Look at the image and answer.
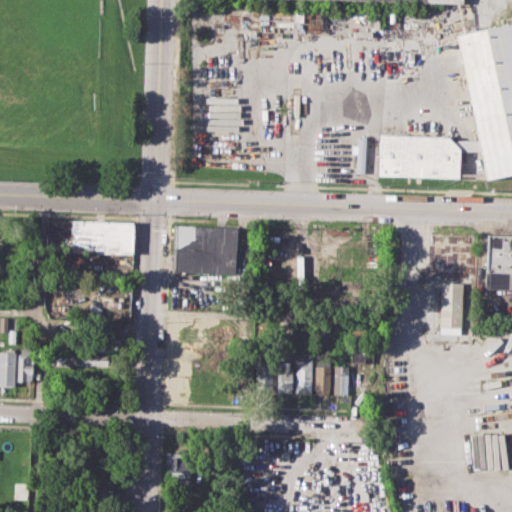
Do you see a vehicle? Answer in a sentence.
Yes, the frame does contain a vehicle.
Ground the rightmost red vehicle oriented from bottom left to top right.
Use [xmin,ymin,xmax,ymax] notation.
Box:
[486,352,506,370]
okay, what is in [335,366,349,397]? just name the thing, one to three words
house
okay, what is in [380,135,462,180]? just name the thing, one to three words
building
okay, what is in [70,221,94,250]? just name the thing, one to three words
building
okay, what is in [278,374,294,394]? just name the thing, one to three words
house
